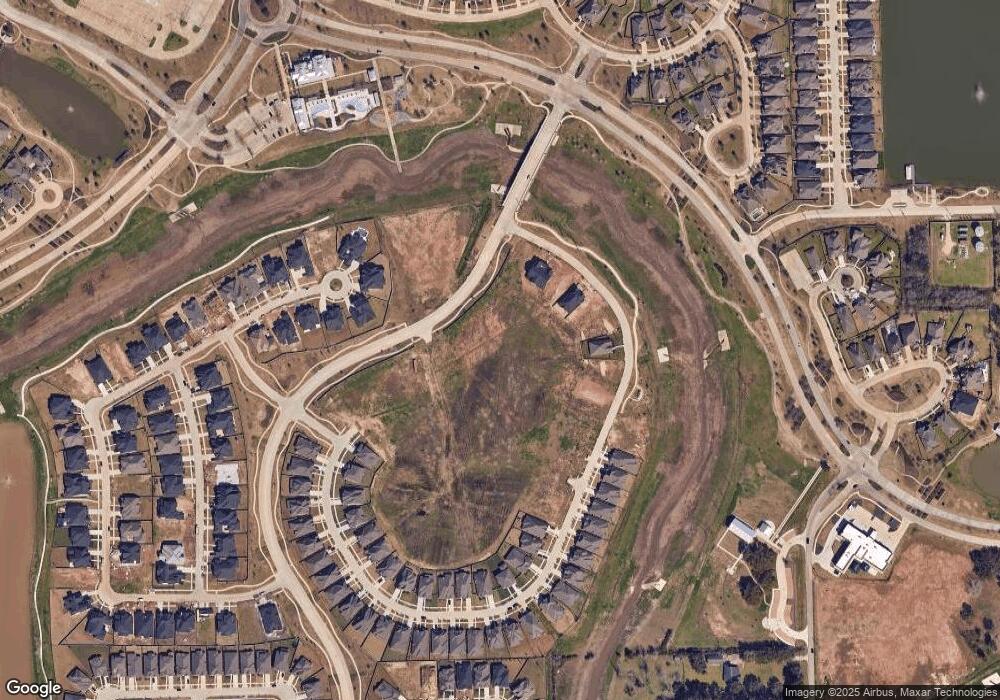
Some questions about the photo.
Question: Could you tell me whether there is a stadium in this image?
No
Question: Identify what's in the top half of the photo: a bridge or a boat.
bridge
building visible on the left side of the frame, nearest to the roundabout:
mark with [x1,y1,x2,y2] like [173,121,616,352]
[292,56,335,84]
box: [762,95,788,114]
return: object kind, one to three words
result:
house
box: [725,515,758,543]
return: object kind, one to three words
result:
building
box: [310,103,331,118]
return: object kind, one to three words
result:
swimming pool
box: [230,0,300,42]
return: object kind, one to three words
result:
roundabout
